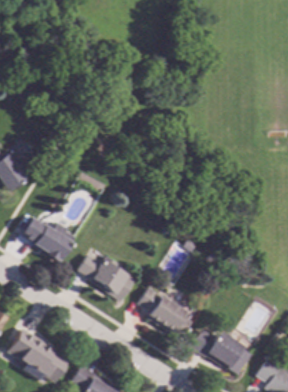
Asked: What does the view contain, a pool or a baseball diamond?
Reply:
pool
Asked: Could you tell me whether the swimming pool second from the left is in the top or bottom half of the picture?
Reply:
bottom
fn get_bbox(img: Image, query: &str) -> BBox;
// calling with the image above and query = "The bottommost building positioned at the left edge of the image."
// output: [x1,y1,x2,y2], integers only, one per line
[8,330,70,382]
